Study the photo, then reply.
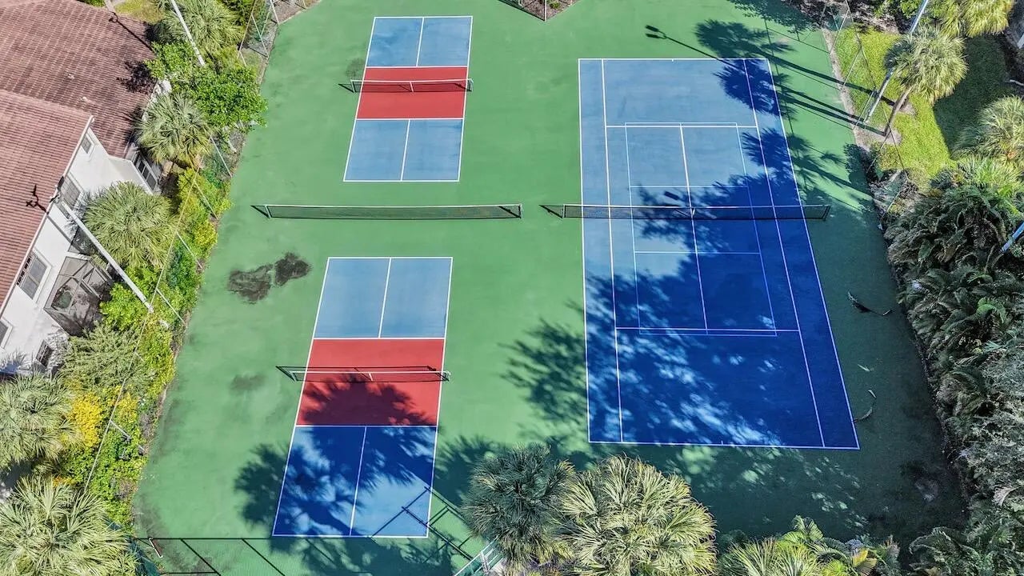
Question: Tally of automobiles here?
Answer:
none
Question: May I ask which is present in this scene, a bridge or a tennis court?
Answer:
tennis court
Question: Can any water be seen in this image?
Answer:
No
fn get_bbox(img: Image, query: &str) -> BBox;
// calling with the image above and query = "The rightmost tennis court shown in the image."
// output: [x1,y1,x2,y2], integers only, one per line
[579,59,857,447]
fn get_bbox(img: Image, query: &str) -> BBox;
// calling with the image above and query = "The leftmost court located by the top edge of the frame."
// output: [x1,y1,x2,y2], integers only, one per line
[344,17,472,181]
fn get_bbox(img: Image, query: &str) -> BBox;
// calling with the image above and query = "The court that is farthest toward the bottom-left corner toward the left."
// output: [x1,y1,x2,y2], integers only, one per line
[274,257,452,538]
